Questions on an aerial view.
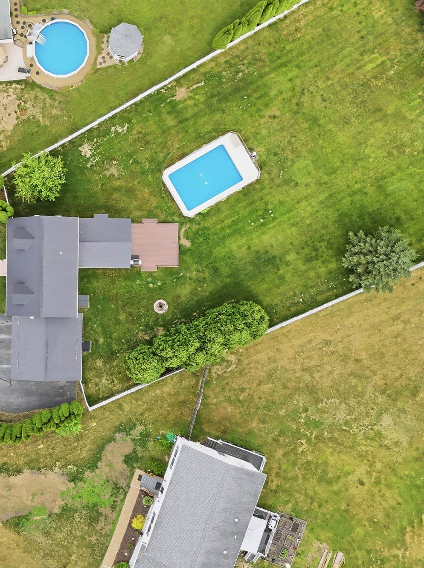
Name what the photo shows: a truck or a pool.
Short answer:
pool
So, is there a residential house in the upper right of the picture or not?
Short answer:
No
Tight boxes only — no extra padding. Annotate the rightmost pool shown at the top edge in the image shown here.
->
[32,21,90,79]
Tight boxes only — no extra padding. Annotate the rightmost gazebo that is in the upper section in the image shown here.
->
[108,23,143,61]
